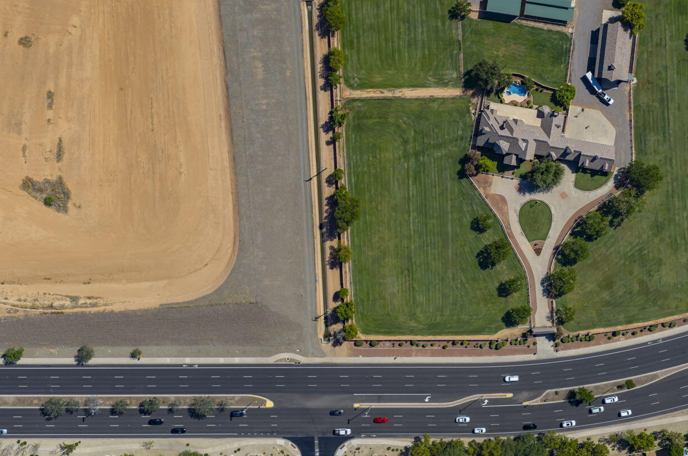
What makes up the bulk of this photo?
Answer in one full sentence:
What you mostly see from above here is paved ground.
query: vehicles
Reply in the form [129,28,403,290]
[330,410,344,415]
[335,429,350,435]
[597,91,612,104]
[505,375,518,381]
[375,416,387,422]
[172,427,186,433]
[231,411,246,416]
[473,428,485,433]
[618,410,631,418]
[524,423,538,429]
[562,420,576,427]
[456,416,468,422]
[0,429,7,435]
[603,396,617,403]
[149,418,163,424]
[590,405,603,413]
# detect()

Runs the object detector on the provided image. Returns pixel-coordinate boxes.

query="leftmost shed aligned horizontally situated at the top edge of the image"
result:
[487,0,522,16]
